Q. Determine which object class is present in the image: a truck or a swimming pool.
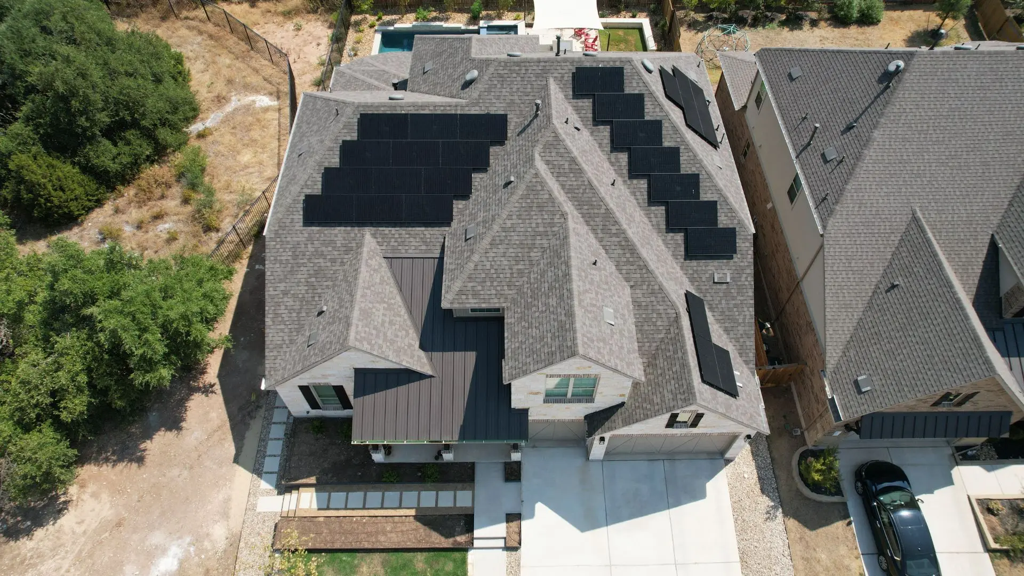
swimming pool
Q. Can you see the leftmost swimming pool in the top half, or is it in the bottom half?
top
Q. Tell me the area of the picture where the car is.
bottom right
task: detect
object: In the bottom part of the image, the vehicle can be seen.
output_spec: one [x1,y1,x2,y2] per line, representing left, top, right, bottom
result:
[856,462,949,576]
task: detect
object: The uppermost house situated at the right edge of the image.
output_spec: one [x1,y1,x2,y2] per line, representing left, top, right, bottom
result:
[715,28,1024,448]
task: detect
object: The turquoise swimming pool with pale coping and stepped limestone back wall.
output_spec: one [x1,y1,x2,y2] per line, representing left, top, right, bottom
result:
[370,19,480,55]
